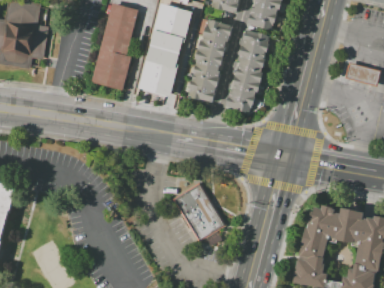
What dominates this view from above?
paved ground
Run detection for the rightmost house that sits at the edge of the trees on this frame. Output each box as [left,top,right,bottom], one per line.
[294,205,384,288]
